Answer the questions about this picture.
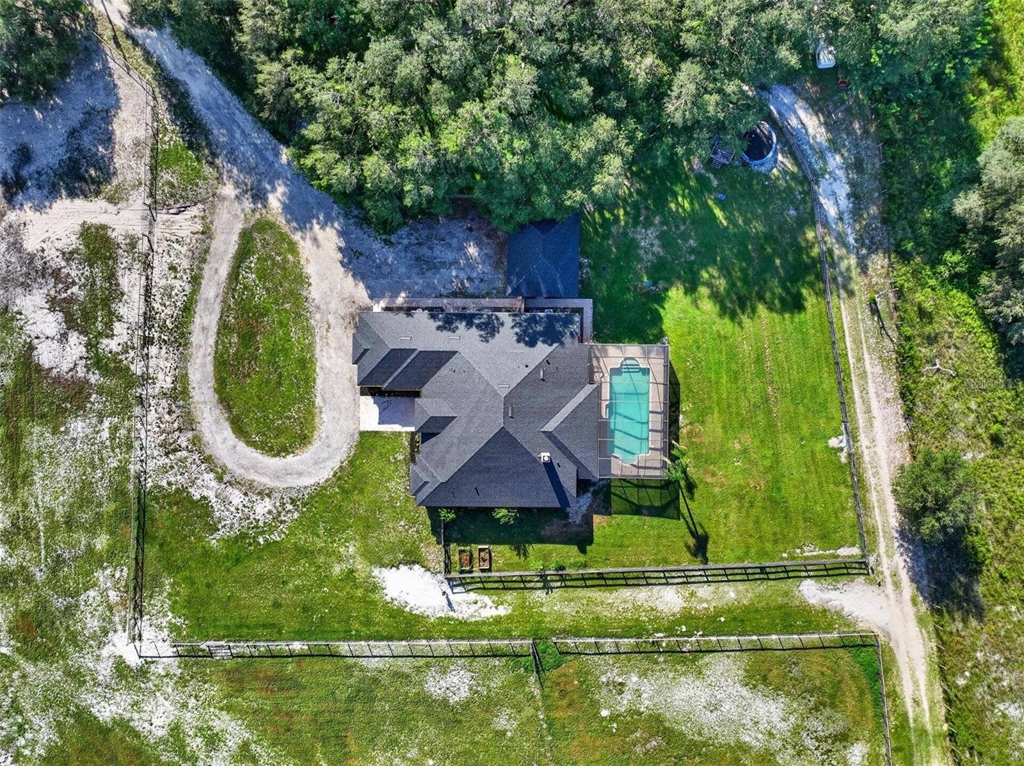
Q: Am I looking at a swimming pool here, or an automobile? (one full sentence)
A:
This aerial view contains a swimming pool.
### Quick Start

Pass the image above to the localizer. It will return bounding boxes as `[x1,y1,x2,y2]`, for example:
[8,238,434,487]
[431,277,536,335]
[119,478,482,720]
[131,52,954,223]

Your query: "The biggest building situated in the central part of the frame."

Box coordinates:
[352,312,598,507]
